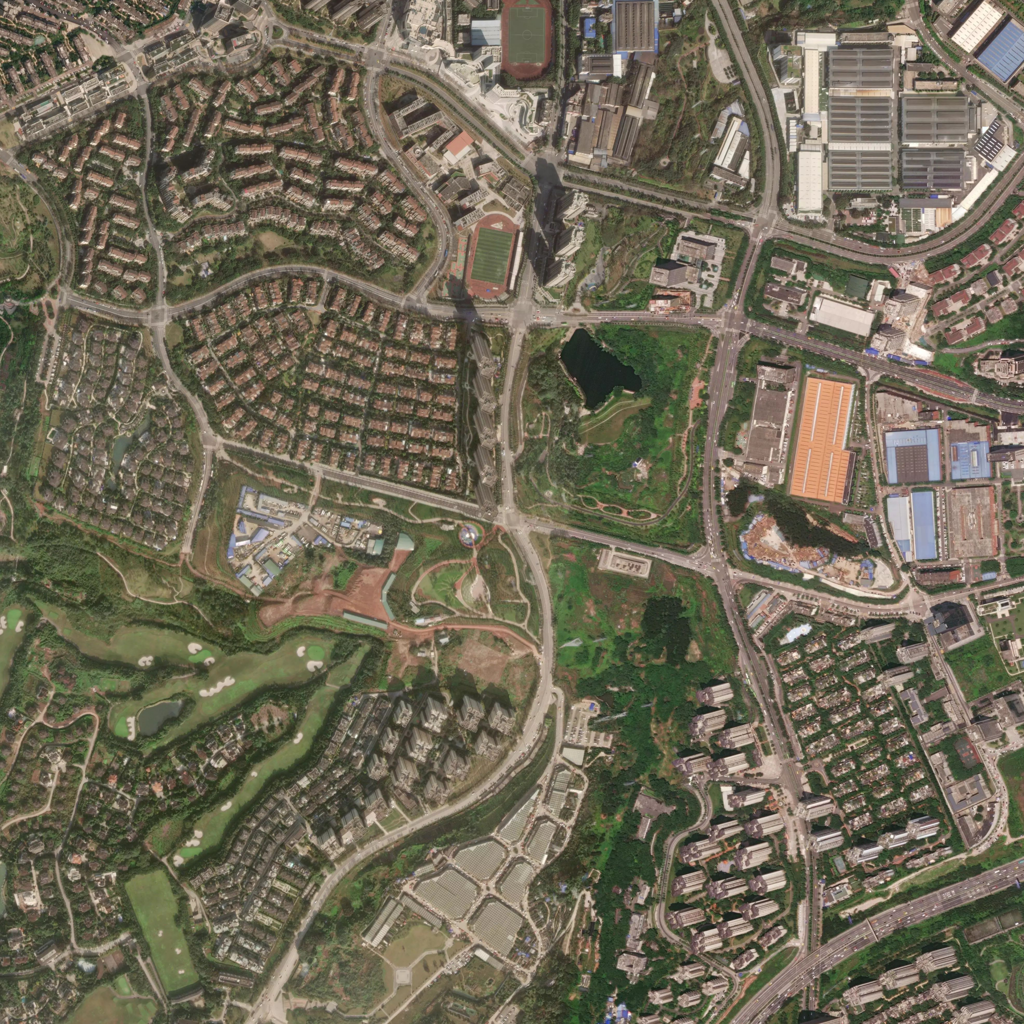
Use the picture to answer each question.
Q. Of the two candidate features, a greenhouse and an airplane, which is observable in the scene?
greenhouse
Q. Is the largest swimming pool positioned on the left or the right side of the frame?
right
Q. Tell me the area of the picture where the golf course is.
bottom left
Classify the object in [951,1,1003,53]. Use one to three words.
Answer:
shed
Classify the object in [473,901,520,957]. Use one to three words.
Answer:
greenhouse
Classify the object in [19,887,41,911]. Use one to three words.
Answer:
house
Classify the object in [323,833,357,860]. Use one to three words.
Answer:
building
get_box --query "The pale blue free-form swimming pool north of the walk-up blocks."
[780,623,813,645]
